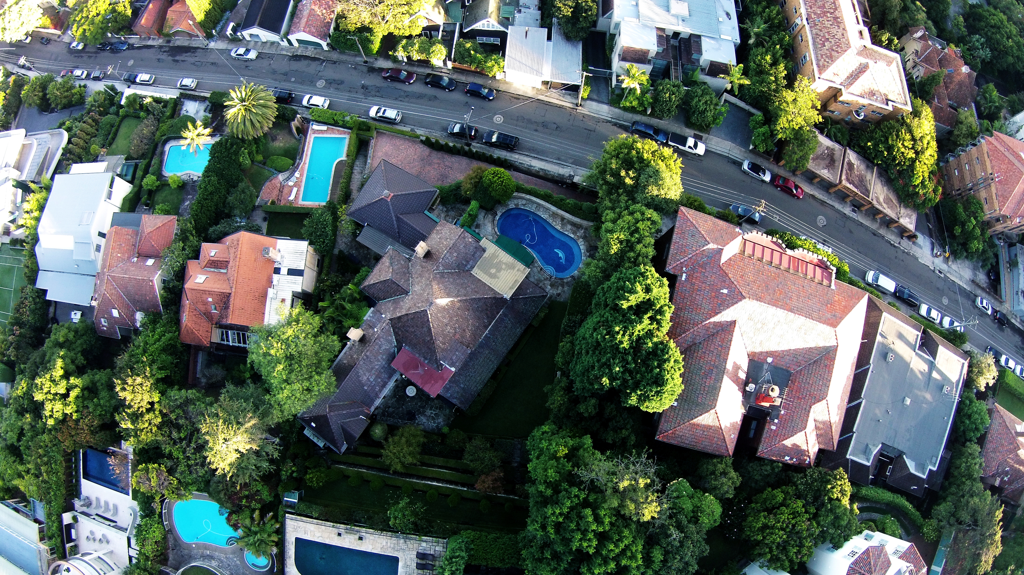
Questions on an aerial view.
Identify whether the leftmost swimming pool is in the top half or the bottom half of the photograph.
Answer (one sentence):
The leftmost swimming pool is in the bottom half of the image.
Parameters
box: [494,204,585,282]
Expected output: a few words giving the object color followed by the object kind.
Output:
blue swimming pool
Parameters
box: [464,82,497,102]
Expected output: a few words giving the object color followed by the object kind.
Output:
blue car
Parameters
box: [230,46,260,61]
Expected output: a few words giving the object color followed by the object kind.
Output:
white car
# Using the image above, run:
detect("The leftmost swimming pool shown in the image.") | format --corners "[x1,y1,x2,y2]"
[81,446,132,499]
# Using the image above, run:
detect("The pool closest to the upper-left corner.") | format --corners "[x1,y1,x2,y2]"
[160,138,218,177]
